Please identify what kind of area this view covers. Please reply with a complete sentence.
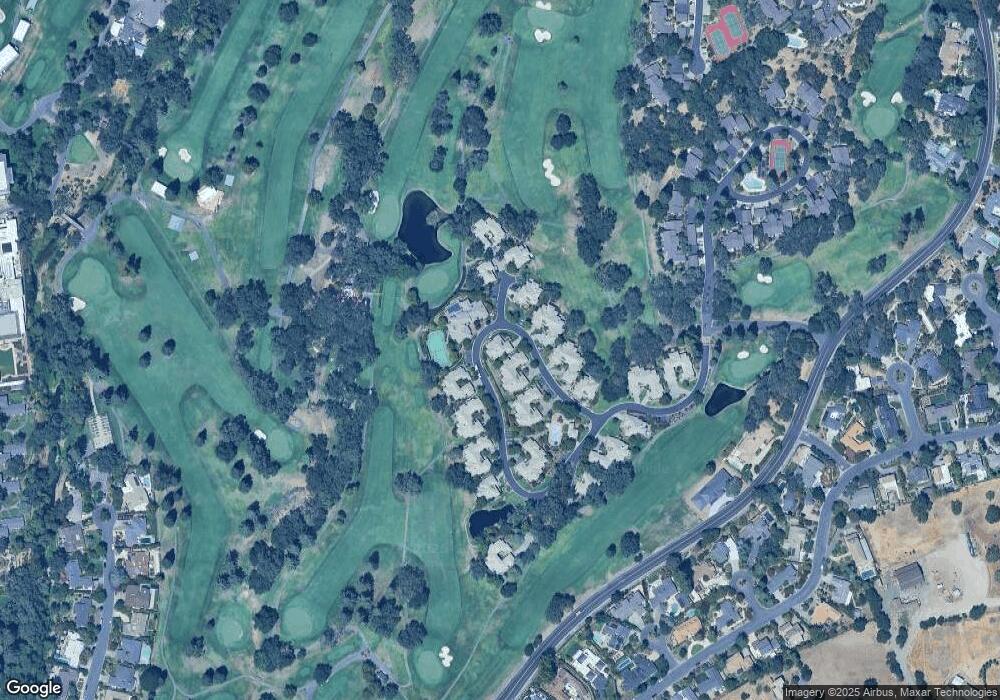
This image shows a golf course.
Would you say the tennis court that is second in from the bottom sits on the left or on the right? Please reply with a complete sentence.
The tennis court that is second in from the bottom appears in the right half of the scene.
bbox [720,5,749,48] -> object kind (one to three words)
tennis court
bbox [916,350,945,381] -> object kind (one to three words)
house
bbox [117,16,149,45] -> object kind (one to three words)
building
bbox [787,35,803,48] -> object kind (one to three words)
swimming pool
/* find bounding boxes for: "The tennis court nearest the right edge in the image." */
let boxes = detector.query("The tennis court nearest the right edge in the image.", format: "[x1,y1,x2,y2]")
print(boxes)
[769,139,792,172]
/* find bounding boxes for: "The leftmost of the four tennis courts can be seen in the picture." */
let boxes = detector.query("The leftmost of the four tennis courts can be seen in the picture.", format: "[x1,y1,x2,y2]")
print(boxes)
[427,330,452,367]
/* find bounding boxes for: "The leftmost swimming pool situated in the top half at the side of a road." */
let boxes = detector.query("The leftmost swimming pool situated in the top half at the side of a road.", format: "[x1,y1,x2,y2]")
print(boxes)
[742,175,764,189]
